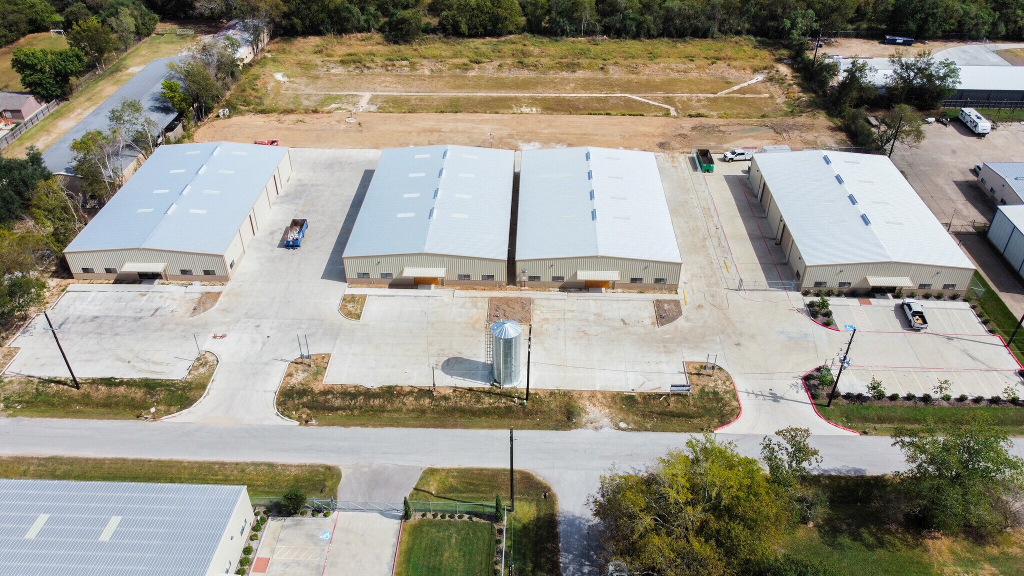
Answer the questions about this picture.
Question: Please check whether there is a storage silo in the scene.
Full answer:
Yes, a storage silo can be made out from above.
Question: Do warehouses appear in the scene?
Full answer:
Yes, looking at the shot, I can spot a warehouse.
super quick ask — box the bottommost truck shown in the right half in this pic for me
[900,298,931,328]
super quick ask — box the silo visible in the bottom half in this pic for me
[483,321,525,394]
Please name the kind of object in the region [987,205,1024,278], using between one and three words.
building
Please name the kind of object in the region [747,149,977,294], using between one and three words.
warehouse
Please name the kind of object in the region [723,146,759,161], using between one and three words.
vehicle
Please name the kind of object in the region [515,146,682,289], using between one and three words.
warehouse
